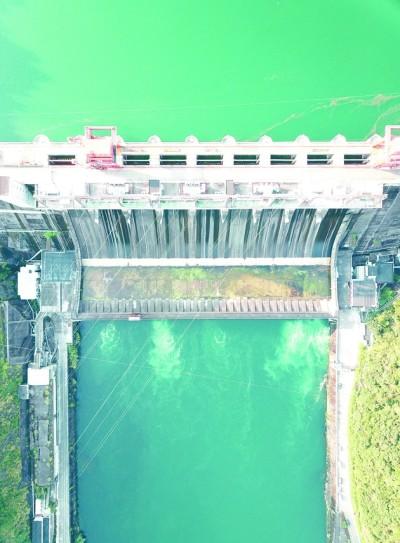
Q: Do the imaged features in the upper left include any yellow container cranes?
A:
No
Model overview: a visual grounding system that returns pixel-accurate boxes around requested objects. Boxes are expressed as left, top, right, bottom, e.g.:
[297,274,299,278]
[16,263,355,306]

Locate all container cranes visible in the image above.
[368,125,400,171]
[84,125,134,171]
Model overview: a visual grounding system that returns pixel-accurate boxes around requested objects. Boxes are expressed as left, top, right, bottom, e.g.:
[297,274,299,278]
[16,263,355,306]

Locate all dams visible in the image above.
[0,136,400,324]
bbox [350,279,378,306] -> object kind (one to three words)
building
